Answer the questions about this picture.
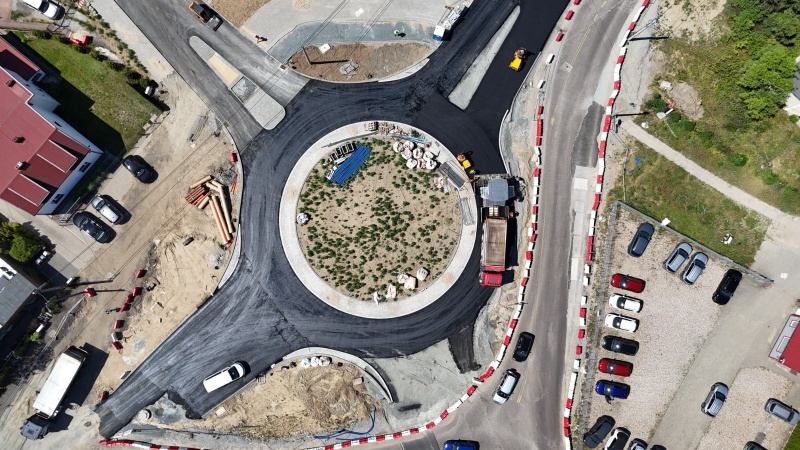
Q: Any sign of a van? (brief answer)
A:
Yes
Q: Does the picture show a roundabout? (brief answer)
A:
Yes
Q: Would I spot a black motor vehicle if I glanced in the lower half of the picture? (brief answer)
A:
Yes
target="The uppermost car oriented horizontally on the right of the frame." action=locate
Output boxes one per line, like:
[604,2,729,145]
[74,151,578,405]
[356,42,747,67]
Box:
[609,273,645,292]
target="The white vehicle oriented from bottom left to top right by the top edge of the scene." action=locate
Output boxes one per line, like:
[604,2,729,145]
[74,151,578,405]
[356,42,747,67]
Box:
[428,0,471,45]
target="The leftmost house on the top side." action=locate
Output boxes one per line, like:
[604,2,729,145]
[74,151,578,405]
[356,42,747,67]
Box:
[0,62,102,216]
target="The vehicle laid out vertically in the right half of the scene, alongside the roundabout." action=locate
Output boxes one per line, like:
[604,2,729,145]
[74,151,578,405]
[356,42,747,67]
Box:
[480,212,508,292]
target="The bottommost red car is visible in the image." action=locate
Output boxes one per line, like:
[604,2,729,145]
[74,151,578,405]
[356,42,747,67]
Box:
[597,357,632,376]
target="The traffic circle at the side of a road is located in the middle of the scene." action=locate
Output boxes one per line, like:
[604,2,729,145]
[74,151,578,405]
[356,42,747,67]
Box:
[279,120,477,319]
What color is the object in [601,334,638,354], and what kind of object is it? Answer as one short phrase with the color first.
black car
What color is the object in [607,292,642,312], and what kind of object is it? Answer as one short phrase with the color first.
white car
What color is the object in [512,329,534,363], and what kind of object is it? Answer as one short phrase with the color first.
black car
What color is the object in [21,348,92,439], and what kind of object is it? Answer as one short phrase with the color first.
white truck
